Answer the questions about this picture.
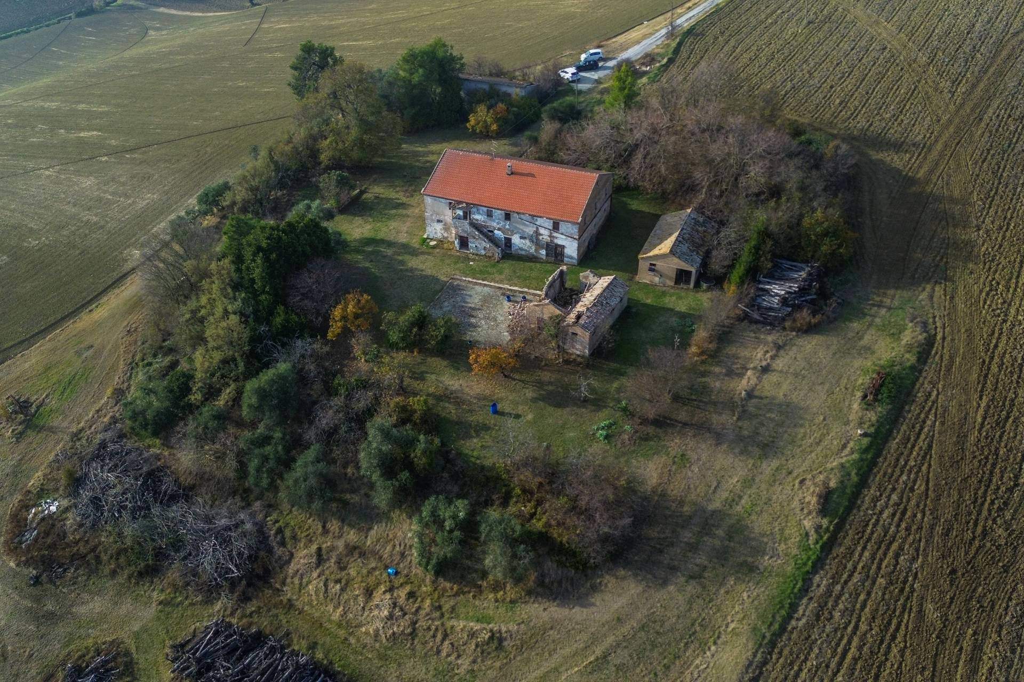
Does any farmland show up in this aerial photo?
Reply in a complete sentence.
Yes, the picture does contain farmland.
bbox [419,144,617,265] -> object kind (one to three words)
house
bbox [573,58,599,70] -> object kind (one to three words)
vehicle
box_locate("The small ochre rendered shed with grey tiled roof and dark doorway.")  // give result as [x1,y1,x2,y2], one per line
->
[636,206,713,291]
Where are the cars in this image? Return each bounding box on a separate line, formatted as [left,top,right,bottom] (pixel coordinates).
[581,48,605,59]
[558,69,582,81]
[573,58,599,70]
